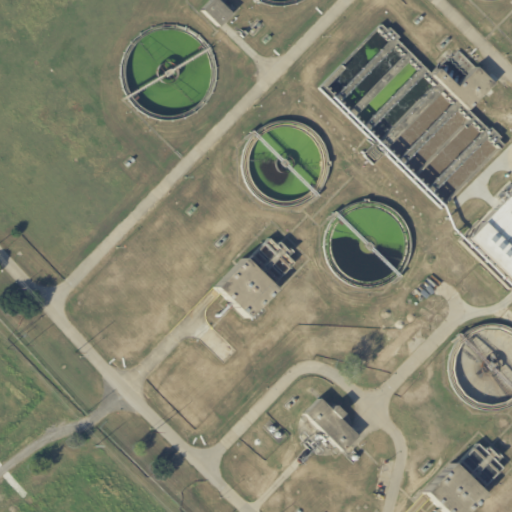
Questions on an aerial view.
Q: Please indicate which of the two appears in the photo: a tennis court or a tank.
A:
tank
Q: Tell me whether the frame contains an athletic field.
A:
No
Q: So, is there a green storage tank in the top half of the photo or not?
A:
Yes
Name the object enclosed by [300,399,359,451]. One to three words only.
building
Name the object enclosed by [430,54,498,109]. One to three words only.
building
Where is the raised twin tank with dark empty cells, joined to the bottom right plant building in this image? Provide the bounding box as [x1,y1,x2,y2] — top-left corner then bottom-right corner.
[457,444,505,490]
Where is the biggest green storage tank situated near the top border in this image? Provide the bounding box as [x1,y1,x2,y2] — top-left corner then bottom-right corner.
[118,24,218,120]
